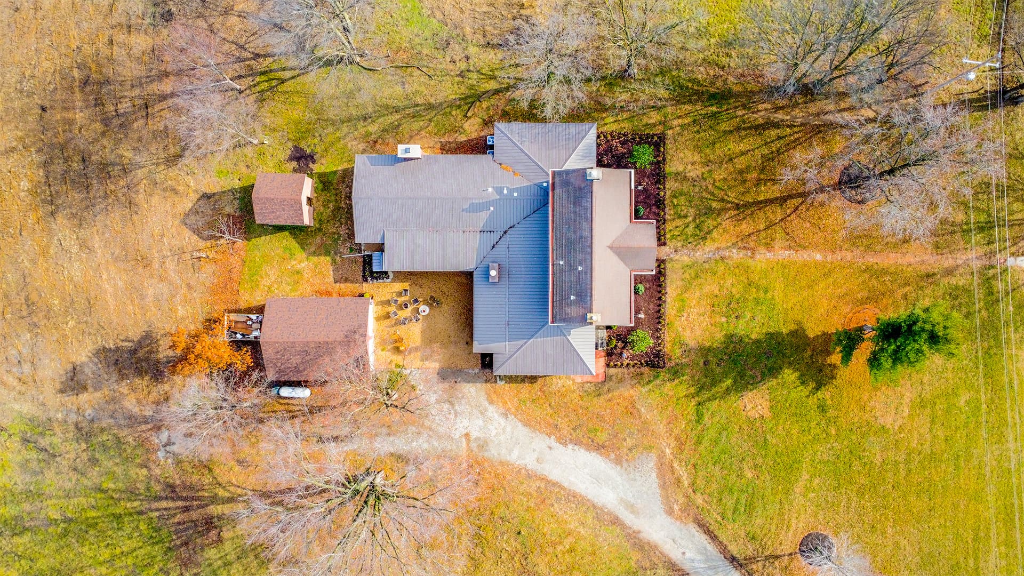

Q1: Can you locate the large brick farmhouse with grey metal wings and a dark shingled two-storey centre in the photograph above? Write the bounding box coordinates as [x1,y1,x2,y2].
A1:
[352,121,656,376]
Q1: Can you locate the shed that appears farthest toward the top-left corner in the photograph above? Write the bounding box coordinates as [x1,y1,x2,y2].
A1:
[252,175,312,225]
